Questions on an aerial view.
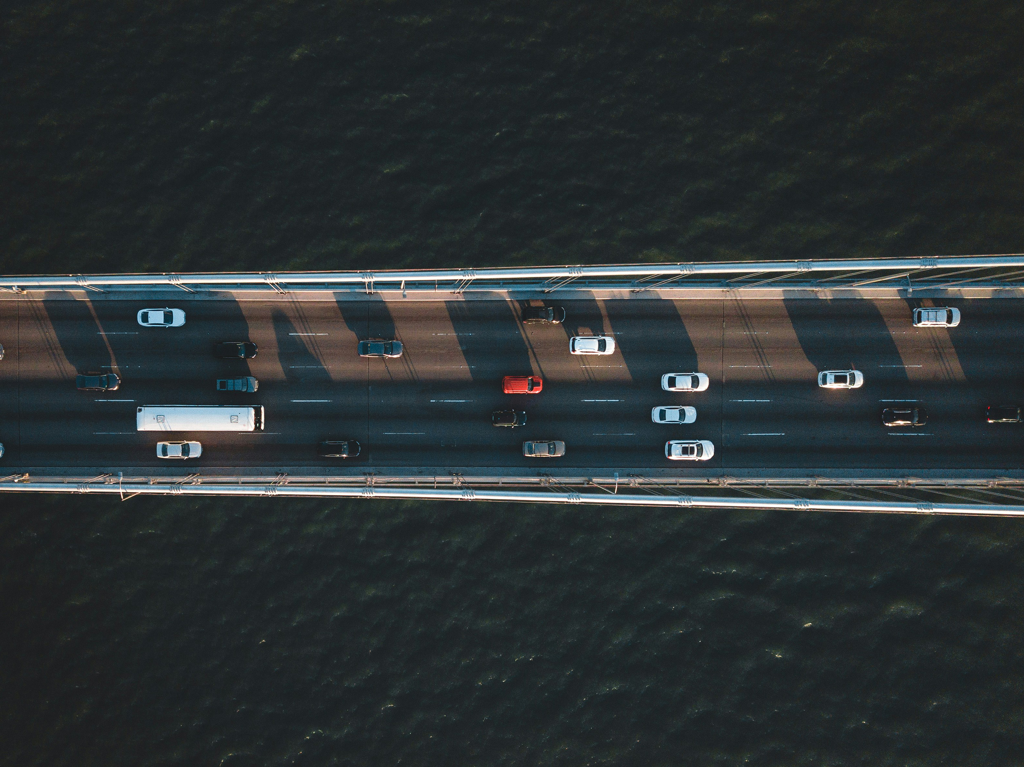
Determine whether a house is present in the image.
No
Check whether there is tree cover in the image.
No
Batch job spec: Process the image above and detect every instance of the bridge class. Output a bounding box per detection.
[0,254,1024,518]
